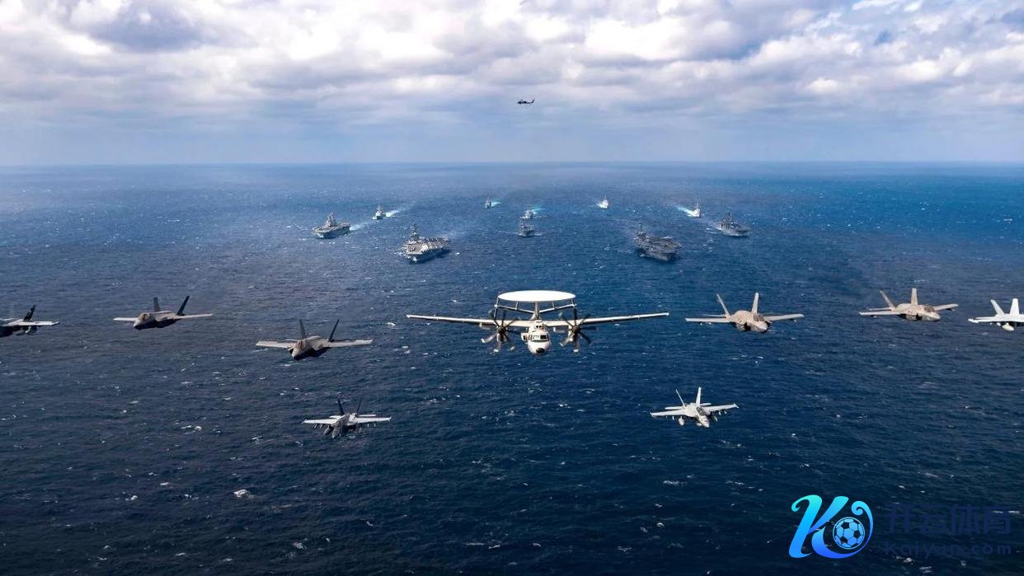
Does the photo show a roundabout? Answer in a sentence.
No, no roundabout is visible in the scene.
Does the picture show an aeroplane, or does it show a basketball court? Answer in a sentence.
Looking from above, you can make out an aeroplane.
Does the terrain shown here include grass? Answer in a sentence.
No, there's no grass in this view.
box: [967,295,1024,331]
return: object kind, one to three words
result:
airplane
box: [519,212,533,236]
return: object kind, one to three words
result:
ship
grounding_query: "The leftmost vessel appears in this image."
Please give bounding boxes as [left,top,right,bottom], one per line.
[315,214,350,238]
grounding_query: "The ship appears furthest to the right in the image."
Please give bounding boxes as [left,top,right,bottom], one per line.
[715,212,754,236]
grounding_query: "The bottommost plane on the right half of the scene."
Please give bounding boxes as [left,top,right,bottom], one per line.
[650,387,738,428]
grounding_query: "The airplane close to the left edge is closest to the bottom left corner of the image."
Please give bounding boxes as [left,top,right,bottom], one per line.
[0,302,58,336]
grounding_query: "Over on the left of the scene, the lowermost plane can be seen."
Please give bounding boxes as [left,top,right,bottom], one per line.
[305,399,393,440]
